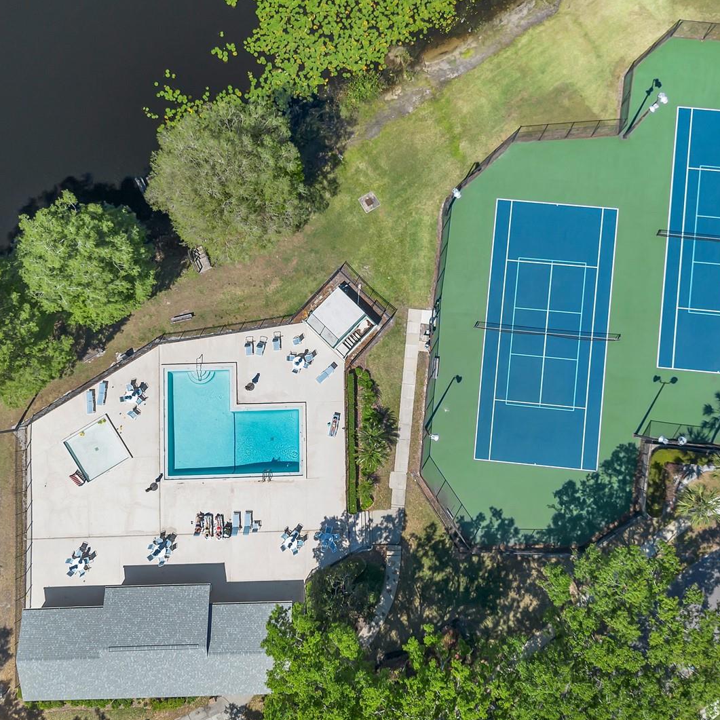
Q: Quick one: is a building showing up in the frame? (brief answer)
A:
Yes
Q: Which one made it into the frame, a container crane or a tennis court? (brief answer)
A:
tennis court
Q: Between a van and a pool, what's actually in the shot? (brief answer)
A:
pool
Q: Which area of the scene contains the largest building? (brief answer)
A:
bottom left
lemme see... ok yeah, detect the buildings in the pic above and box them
[308,286,379,358]
[16,582,297,699]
